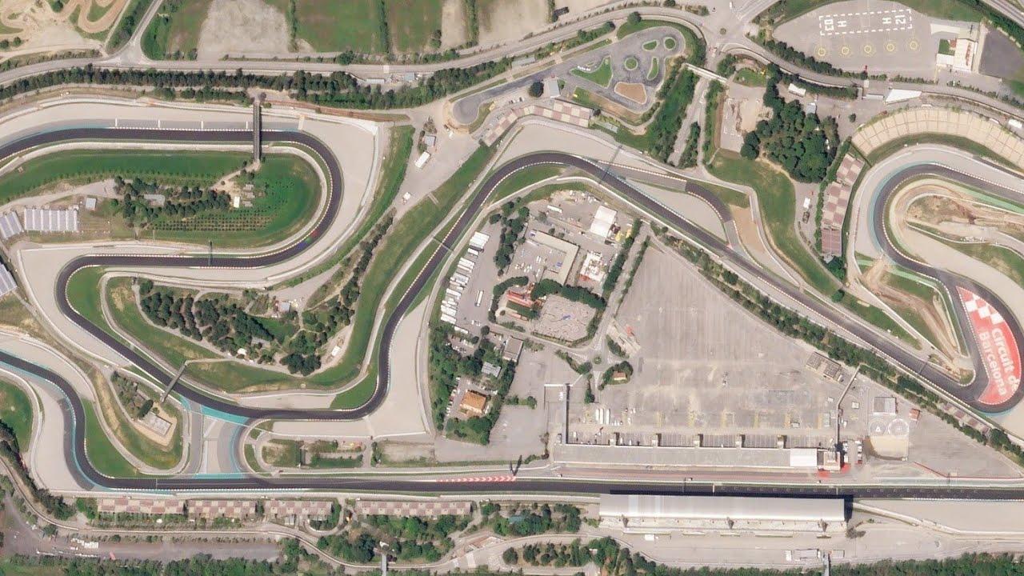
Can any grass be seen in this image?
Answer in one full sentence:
Yes, there is grass in the image.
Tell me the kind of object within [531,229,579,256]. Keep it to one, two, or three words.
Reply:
building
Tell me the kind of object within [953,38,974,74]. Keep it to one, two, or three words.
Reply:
building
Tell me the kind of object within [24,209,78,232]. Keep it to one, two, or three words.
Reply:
greenhouse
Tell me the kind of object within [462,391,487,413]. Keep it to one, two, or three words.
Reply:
house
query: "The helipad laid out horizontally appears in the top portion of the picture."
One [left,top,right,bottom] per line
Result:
[772,0,977,81]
